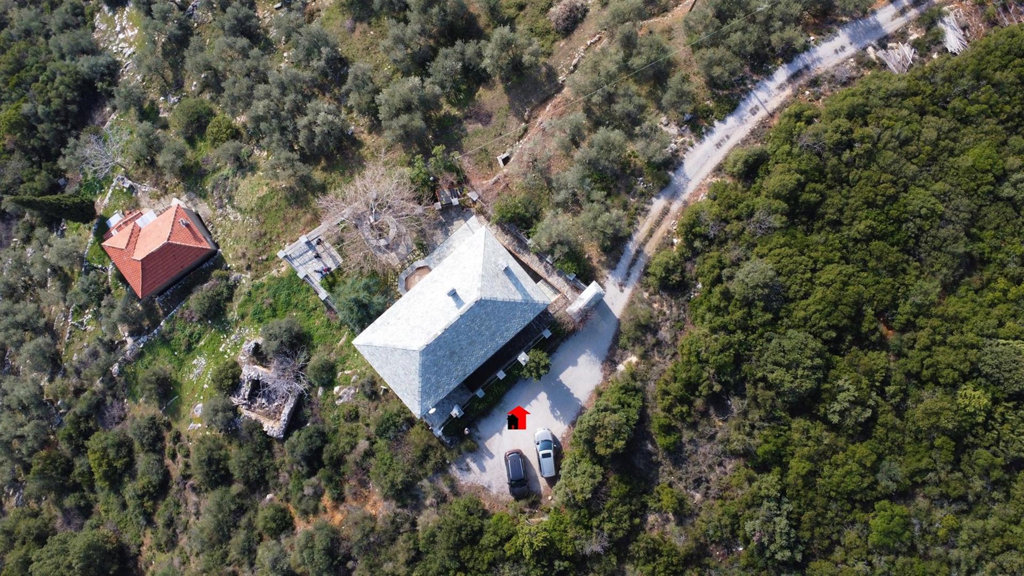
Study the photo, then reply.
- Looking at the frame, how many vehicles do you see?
2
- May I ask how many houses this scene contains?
2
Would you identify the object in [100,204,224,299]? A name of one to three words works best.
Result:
house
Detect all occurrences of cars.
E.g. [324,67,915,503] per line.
[505,449,530,498]
[534,426,559,480]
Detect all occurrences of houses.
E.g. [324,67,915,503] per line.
[351,225,551,419]
[100,204,224,299]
